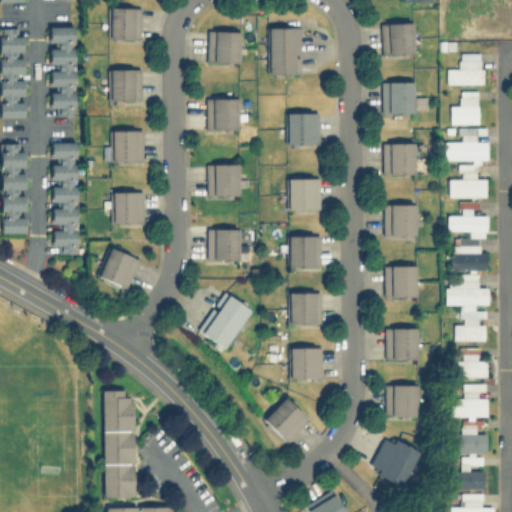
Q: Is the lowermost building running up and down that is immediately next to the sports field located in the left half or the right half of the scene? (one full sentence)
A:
The lowermost building running up and down that is immediately next to the sports field appears in the left half of the scene.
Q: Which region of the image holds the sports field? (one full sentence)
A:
You can find the sports field in the bottom left area of the picture.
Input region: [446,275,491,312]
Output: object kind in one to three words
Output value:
house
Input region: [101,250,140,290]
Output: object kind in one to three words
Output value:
house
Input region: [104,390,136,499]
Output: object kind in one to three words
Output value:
building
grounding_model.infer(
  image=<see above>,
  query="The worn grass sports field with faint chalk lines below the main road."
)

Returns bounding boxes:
[0,304,79,512]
